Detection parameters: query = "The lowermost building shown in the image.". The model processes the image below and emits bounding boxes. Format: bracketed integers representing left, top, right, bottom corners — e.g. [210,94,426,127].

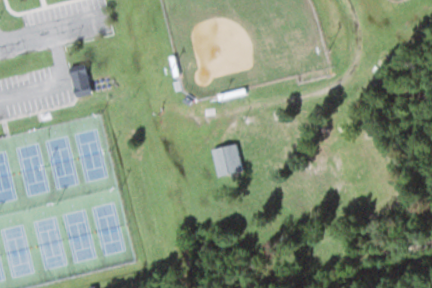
[212,144,243,178]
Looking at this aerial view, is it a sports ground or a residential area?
sports ground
